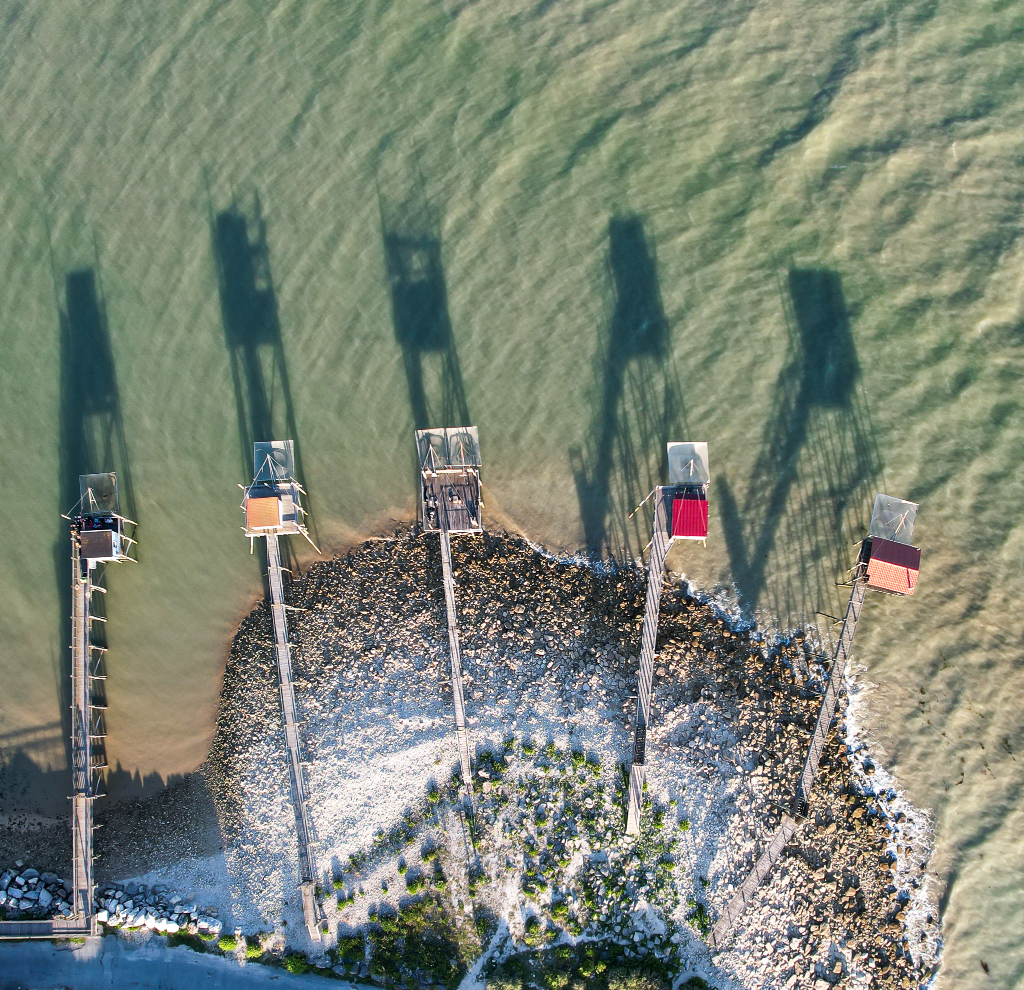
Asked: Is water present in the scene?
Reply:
Yes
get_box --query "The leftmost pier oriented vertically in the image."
[60,513,140,938]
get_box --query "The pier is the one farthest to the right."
[706,534,929,948]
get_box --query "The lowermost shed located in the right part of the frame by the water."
[862,535,921,595]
